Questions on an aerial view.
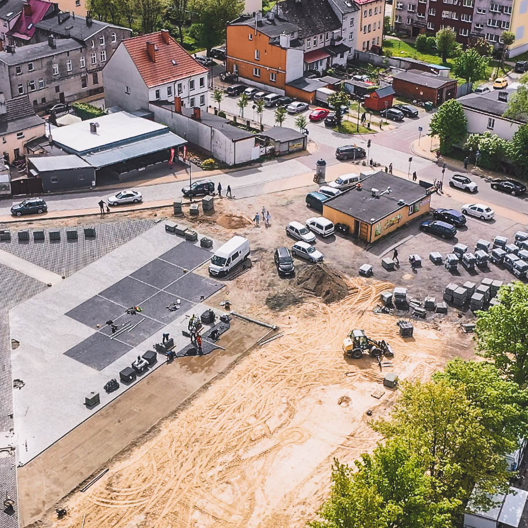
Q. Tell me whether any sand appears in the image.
Yes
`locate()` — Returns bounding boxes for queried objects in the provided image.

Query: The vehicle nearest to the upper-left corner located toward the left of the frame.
[42,101,73,117]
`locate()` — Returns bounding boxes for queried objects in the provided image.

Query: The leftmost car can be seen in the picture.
[10,195,48,216]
